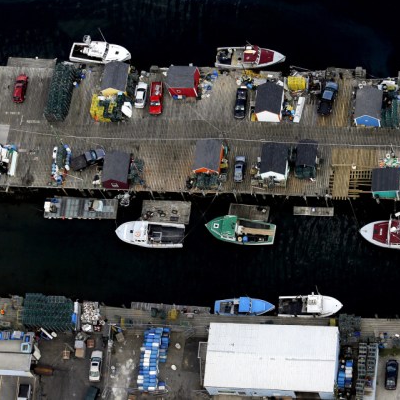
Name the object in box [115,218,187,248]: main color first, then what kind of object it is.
white boat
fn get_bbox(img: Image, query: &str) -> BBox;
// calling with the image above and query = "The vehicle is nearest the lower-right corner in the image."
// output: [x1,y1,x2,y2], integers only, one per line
[384,359,399,391]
